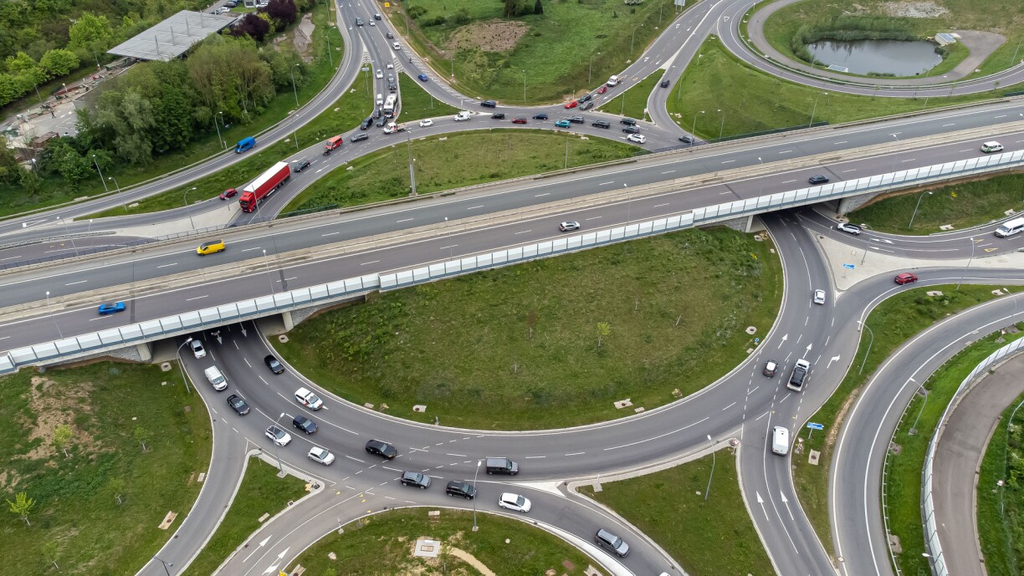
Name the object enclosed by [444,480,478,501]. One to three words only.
car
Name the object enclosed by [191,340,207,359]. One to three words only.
car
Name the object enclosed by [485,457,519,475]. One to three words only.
vehicle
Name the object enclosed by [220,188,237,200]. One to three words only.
vehicle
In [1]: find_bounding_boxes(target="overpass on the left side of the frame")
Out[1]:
[63,286,398,367]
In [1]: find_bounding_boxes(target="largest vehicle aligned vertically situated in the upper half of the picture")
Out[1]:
[382,91,397,117]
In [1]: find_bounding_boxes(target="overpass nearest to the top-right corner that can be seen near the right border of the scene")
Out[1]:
[696,163,1024,235]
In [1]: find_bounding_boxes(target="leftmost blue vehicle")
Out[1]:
[97,302,127,316]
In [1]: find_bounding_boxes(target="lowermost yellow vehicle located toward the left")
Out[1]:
[197,239,225,254]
